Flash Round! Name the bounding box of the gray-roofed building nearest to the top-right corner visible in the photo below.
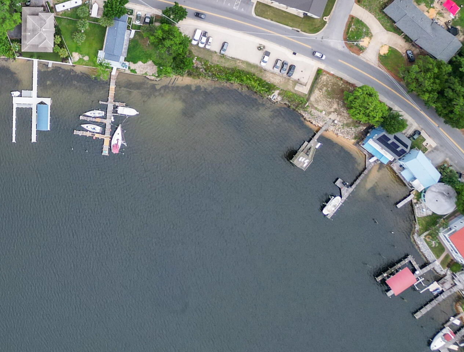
[381,0,462,61]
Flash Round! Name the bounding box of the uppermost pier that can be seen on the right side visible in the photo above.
[290,117,335,171]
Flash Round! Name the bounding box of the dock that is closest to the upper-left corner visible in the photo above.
[11,59,52,142]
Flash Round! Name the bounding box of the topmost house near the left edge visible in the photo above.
[22,8,55,53]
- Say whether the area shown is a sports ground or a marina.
marina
